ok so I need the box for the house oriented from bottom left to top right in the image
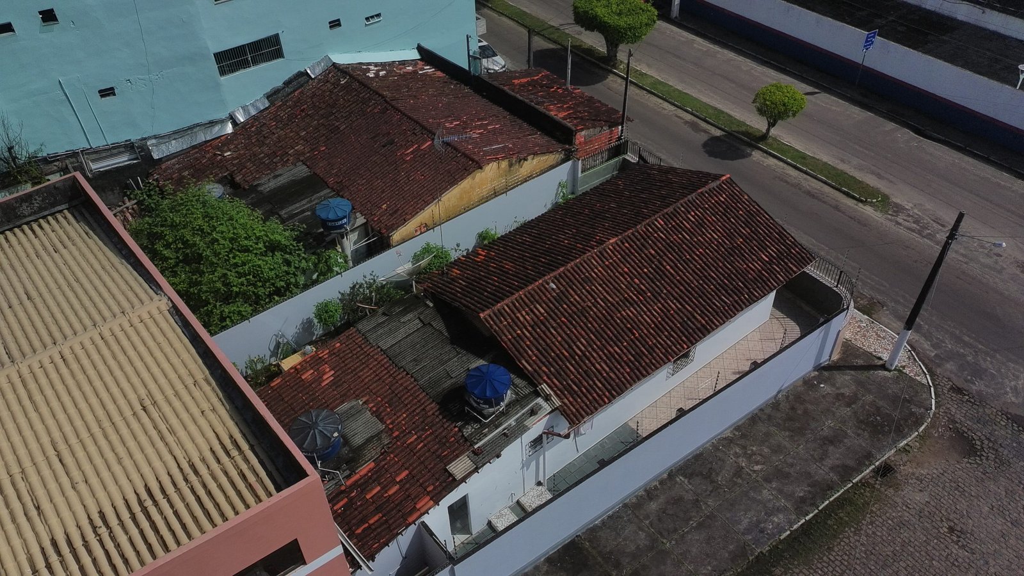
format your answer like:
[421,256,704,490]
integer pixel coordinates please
[255,160,817,576]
